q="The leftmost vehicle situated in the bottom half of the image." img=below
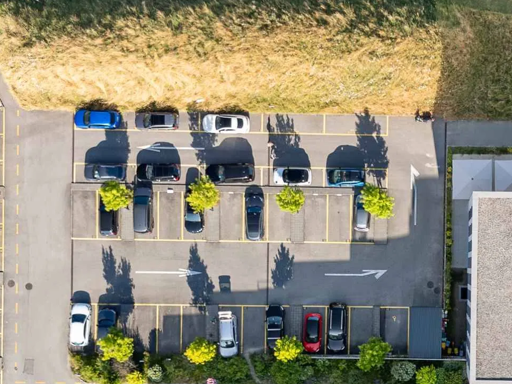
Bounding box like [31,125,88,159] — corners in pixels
[69,302,93,348]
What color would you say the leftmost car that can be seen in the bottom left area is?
white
